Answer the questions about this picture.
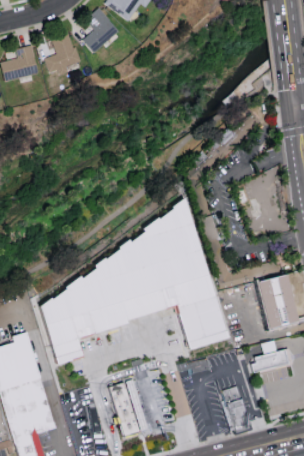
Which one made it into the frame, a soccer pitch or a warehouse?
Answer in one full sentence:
The one in the frame is a warehouse.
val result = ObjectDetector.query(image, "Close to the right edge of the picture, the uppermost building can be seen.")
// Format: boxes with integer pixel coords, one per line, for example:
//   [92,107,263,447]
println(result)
[259,274,304,330]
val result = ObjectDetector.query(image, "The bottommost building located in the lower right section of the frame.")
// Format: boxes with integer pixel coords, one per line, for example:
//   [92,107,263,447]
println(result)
[228,400,248,434]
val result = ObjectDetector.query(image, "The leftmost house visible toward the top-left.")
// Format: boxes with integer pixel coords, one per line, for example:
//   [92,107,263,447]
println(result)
[1,46,38,81]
